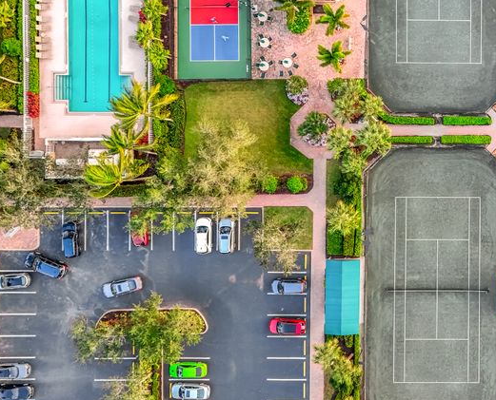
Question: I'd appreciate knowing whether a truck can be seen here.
No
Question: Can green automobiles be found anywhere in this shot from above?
Yes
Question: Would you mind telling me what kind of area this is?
sports ground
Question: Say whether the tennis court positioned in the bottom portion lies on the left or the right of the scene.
right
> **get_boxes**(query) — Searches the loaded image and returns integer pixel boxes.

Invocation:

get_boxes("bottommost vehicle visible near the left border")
[0,382,34,400]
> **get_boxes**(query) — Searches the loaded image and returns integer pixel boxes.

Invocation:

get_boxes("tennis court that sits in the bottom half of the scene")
[364,148,496,400]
